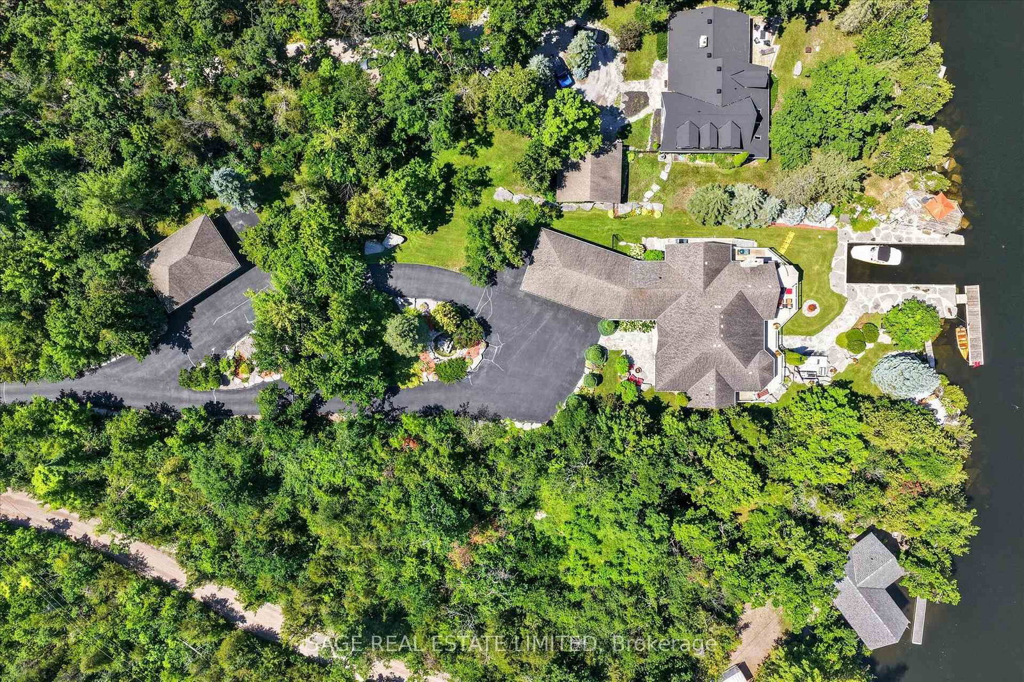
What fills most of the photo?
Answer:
trees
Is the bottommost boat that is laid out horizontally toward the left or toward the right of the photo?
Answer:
right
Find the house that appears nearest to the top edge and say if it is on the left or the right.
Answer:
right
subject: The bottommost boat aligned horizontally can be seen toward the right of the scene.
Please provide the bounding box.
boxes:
[851,246,905,266]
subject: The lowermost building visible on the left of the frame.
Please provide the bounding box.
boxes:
[137,213,244,313]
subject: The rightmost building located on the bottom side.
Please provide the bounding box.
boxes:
[825,533,913,651]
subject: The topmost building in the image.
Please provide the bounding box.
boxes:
[660,6,772,160]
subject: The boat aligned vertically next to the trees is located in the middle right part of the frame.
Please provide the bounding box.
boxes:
[954,323,969,359]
